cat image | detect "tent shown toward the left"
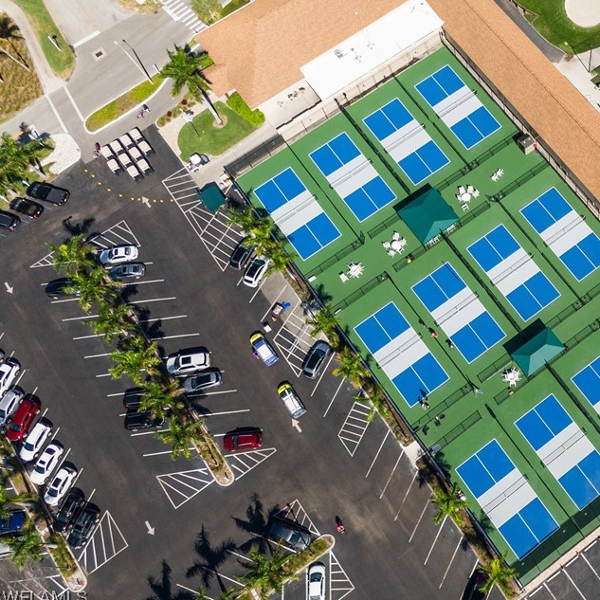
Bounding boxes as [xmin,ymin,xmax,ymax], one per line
[200,182,234,216]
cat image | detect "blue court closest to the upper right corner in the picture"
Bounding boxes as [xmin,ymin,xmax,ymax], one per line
[415,65,501,149]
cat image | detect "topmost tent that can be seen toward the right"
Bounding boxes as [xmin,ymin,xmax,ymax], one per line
[399,187,462,250]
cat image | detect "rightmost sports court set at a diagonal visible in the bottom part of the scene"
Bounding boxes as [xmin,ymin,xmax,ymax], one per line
[515,394,600,510]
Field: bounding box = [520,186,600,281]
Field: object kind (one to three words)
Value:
sports court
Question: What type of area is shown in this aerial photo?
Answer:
sports ground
